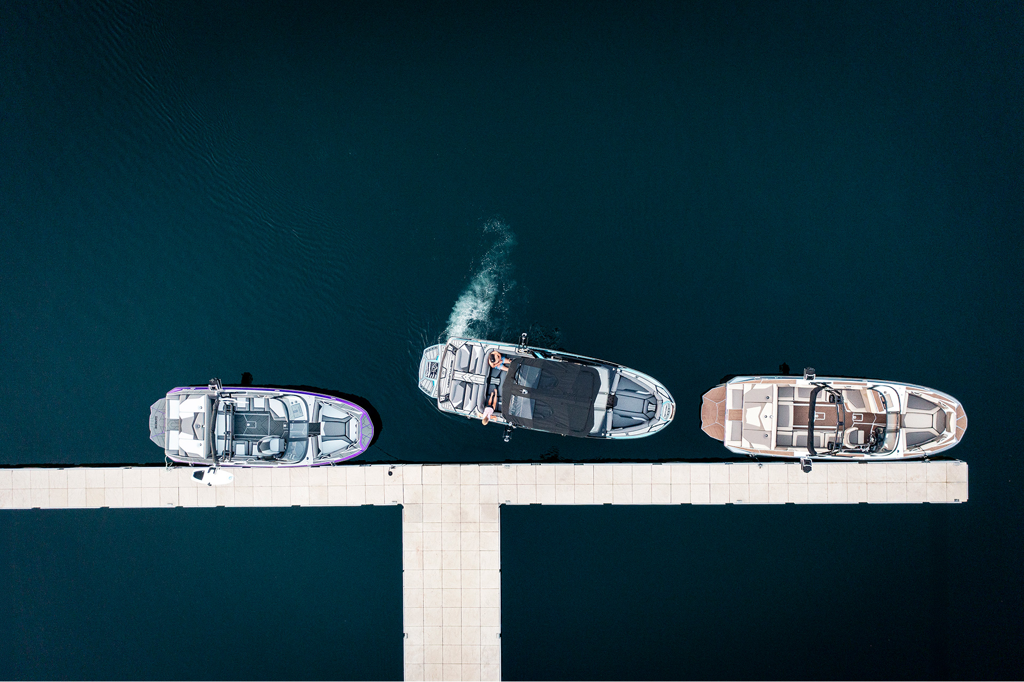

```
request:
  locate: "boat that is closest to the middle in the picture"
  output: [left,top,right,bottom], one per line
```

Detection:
[418,333,676,442]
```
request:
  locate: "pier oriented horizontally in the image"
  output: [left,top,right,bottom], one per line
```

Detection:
[0,461,968,682]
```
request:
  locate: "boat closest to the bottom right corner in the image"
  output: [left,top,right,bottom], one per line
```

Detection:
[700,367,968,473]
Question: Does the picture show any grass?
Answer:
No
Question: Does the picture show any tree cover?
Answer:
No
